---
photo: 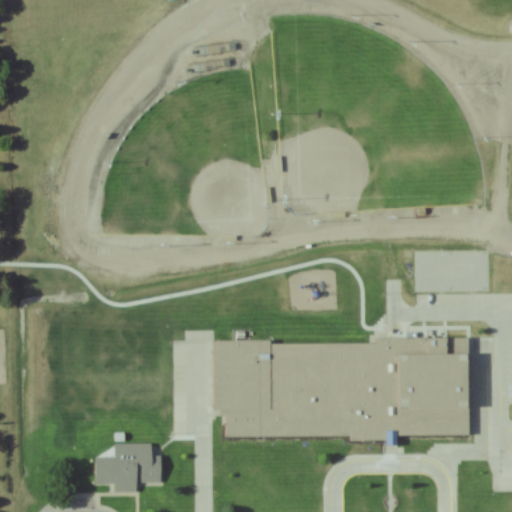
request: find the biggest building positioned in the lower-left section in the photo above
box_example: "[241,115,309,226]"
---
[95,444,162,493]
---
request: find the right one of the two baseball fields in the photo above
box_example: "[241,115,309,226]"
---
[271,16,484,215]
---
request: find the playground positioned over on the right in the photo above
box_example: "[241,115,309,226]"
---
[290,270,338,310]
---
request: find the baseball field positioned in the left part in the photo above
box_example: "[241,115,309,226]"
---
[102,66,267,237]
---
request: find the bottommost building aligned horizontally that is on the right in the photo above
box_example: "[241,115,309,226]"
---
[214,338,470,452]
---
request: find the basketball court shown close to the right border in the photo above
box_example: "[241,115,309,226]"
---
[414,250,488,292]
